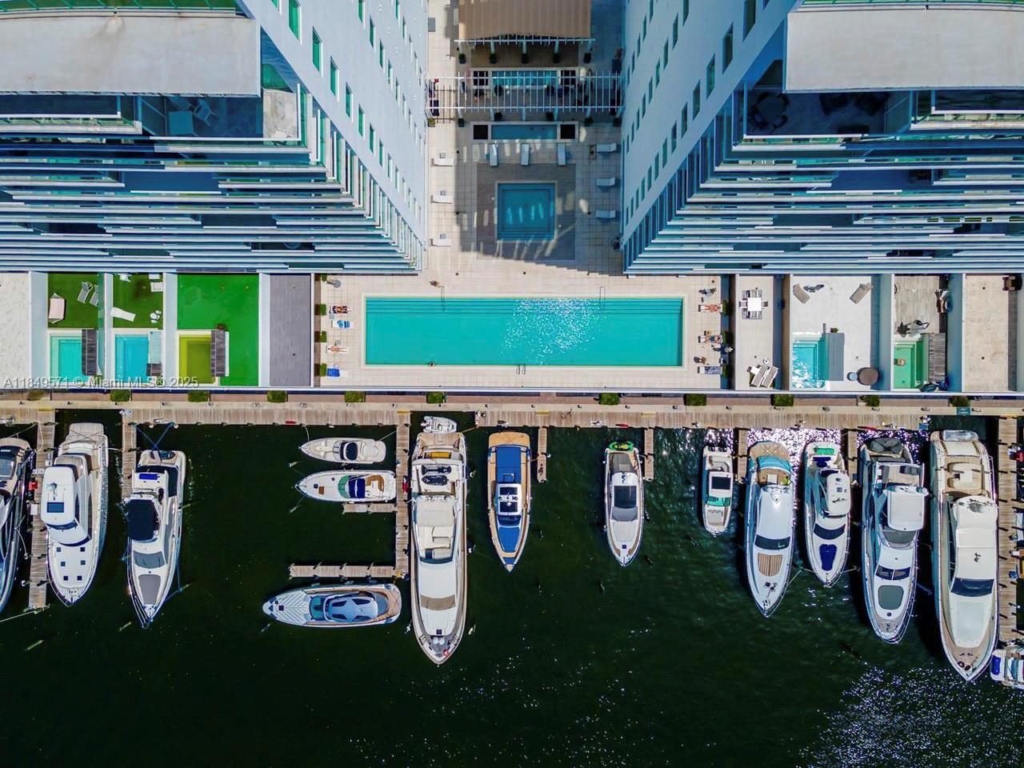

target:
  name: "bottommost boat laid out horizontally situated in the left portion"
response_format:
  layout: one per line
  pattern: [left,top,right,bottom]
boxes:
[261,578,405,628]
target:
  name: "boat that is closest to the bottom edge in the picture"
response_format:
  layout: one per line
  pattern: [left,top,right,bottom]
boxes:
[989,647,1024,688]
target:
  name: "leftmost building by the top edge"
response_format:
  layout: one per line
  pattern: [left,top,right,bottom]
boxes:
[0,0,428,270]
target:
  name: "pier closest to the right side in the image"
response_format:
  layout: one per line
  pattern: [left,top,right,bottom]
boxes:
[992,414,1019,644]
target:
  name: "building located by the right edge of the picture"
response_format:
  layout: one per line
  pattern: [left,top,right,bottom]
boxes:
[623,0,1024,272]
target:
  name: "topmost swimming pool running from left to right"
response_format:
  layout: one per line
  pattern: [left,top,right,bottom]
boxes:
[491,70,557,86]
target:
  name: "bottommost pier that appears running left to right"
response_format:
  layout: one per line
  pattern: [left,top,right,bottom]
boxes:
[290,565,396,577]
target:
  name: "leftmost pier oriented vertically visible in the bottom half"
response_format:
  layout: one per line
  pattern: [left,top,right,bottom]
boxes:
[28,425,60,608]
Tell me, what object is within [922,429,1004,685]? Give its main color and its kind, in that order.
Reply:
white boat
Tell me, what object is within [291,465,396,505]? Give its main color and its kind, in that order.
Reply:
white boat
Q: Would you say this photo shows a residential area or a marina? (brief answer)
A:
marina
